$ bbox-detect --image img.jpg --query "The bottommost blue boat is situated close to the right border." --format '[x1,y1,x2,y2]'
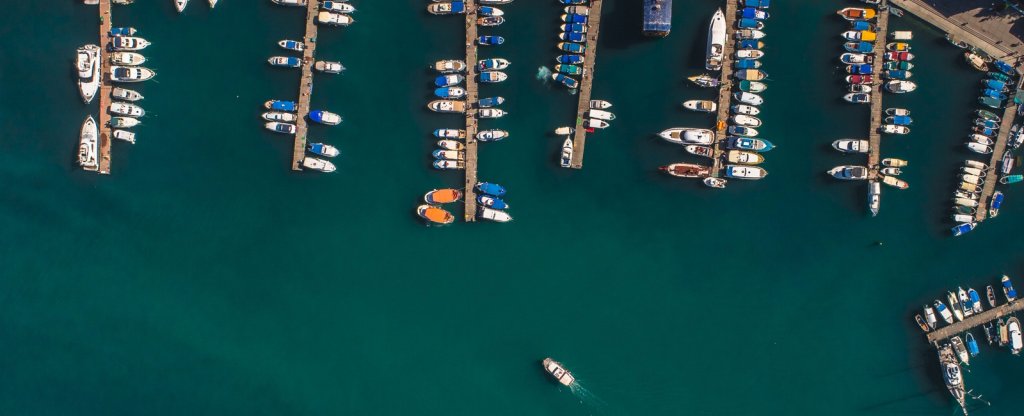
[966,332,981,358]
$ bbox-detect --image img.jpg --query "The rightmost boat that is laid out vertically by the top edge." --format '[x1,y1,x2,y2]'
[705,7,726,76]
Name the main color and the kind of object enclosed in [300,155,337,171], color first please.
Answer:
white boat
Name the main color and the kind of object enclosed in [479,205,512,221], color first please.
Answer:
white boat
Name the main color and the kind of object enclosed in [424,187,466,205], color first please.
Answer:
orange boat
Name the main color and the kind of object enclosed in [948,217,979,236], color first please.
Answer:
blue boat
